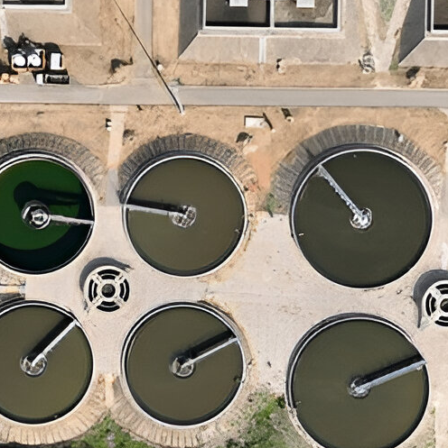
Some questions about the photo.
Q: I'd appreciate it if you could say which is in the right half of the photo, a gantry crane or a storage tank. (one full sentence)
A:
You can see a storage tank in the right half of the photo.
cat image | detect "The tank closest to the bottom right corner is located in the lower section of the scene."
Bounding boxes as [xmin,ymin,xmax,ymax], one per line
[272,311,433,448]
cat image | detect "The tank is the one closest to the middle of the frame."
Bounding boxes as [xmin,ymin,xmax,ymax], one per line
[116,132,268,284]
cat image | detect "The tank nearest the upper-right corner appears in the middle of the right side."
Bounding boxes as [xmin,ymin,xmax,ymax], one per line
[272,127,443,295]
